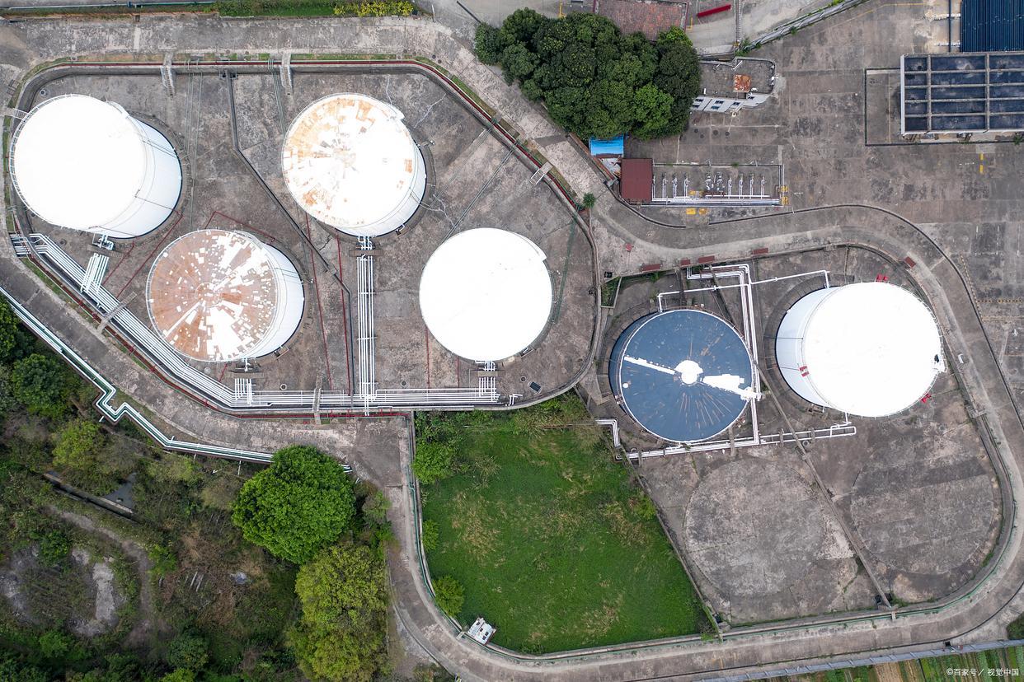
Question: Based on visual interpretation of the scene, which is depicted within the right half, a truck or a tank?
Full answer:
There is a tank within the right half.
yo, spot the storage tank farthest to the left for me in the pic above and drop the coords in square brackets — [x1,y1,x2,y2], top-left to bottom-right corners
[6,92,187,252]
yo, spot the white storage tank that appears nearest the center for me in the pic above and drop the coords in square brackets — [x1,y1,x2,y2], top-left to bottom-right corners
[417,226,555,365]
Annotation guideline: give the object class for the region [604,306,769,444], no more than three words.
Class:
storage tank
